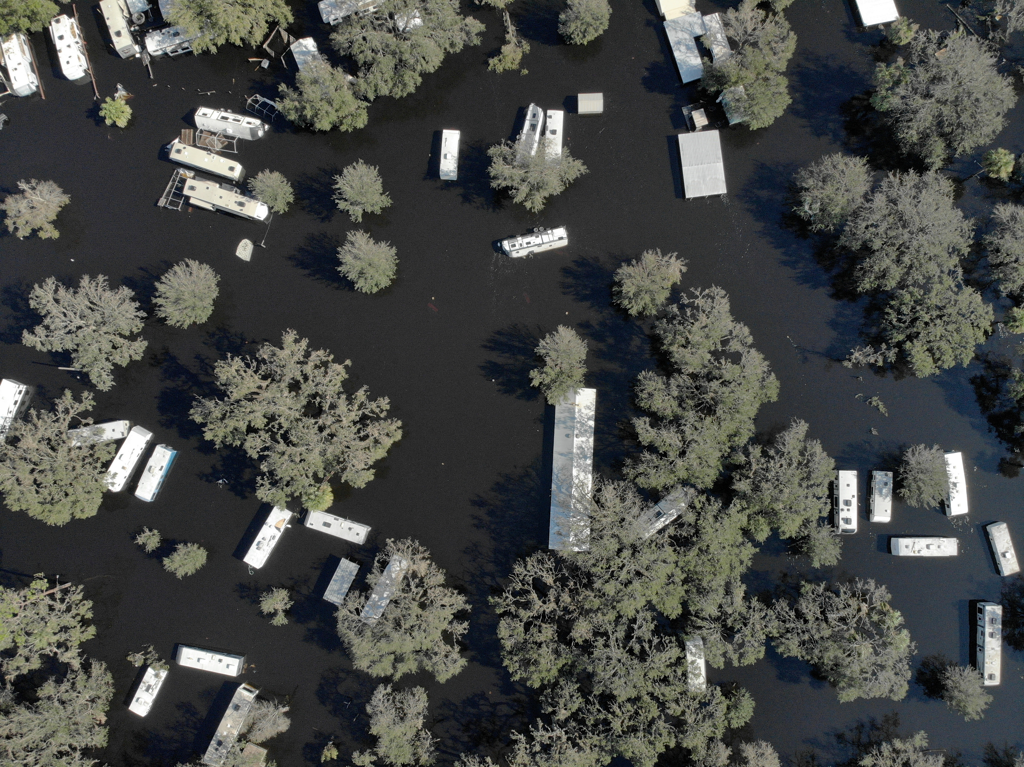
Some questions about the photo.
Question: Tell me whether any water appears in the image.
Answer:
Yes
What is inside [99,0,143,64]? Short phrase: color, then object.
white trailer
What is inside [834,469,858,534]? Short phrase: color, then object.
white vehicle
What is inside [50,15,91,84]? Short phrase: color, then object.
white trailer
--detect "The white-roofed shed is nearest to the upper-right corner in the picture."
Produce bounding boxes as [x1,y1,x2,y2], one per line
[850,0,899,33]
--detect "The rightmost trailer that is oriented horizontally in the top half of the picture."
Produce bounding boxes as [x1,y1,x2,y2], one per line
[502,226,568,257]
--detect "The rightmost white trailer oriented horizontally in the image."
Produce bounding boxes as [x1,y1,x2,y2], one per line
[886,535,959,556]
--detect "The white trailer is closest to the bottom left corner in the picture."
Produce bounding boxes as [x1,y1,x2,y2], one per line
[129,661,170,716]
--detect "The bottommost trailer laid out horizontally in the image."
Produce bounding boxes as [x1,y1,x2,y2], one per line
[177,644,245,677]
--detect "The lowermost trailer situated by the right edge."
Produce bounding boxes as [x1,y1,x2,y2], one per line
[976,602,1002,685]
